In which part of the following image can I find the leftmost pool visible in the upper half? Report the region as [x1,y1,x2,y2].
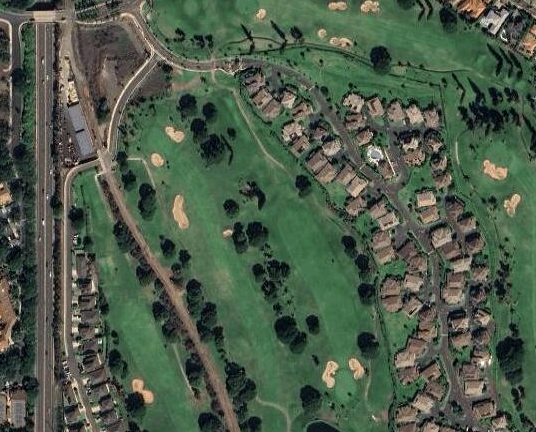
[367,146,383,161]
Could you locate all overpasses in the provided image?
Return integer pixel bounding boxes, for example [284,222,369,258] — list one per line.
[4,6,88,20]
